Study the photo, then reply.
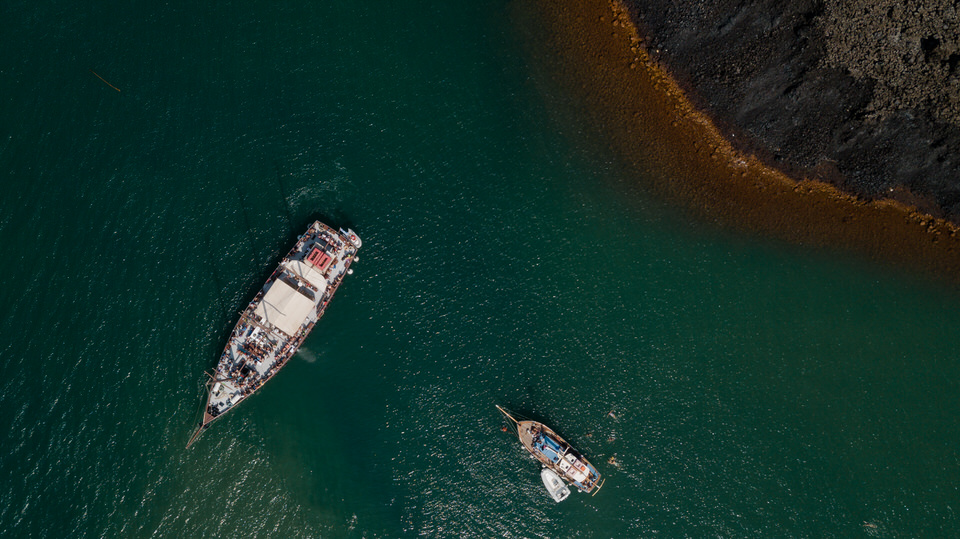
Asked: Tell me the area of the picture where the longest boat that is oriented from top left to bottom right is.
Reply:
bottom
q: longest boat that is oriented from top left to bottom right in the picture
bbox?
[495,405,606,496]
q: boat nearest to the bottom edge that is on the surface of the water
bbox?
[541,466,571,502]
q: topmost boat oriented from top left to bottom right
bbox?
[343,229,363,247]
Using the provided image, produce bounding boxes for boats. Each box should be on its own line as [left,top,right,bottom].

[495,405,606,496]
[183,220,358,449]
[541,466,571,502]
[343,229,363,247]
